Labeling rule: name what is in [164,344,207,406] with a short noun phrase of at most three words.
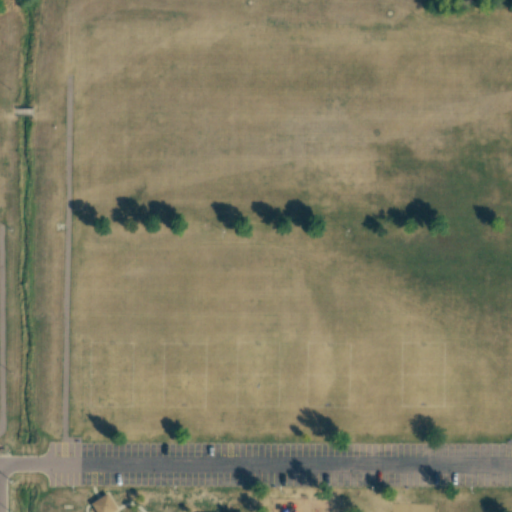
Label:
soccer field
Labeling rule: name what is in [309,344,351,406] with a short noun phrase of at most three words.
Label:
soccer field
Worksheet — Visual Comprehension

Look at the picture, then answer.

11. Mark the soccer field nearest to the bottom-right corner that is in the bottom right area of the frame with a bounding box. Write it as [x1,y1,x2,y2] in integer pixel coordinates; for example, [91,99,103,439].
[402,344,446,406]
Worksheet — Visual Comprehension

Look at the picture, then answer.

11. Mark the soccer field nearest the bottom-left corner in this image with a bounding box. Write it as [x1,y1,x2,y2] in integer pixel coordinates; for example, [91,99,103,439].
[91,344,134,406]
